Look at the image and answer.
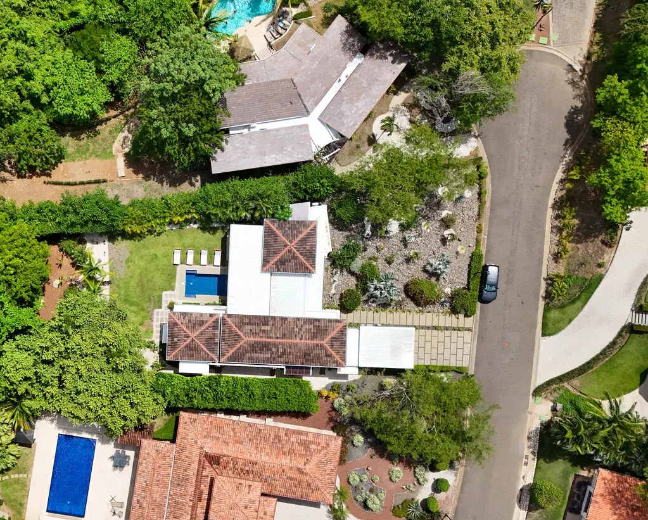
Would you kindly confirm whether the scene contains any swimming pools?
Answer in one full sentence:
Yes, you can see a swimming pool in this photo.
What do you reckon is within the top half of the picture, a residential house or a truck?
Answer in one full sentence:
The feature located within the top half of the picture is a residential house.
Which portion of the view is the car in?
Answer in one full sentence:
The car is located in the right region of the scene.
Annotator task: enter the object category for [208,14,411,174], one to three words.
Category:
house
